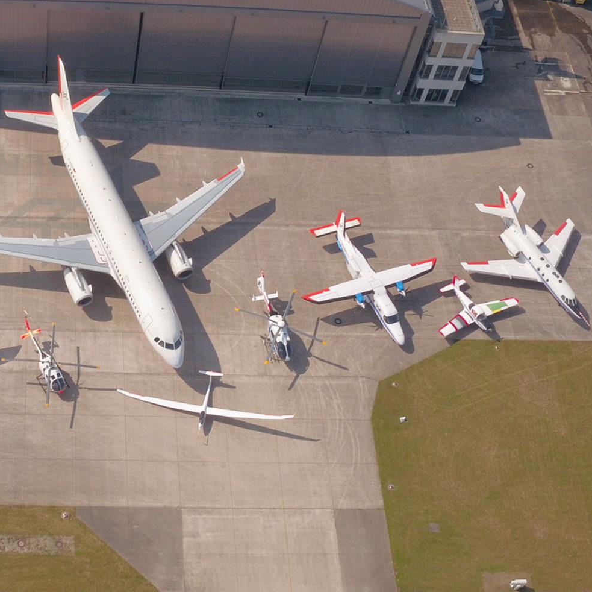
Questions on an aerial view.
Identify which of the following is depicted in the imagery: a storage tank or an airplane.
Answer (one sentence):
This aerial view contains an airplane.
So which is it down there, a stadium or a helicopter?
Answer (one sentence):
Visible in the photo is a helicopter.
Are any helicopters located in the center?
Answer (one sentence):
Yes, looking in the center, one can make out a helicopter.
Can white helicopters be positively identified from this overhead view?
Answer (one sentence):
Yes, I can see a white helicopter in this picture.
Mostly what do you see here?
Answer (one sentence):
What you mostly see from above here is paved ground.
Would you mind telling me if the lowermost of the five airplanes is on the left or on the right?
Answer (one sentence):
You can find the lowermost of the five airplanes on the left side of the picture.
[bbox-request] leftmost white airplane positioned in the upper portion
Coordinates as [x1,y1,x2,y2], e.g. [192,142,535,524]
[0,54,246,369]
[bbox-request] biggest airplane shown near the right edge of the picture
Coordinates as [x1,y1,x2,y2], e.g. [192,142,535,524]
[456,186,589,331]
